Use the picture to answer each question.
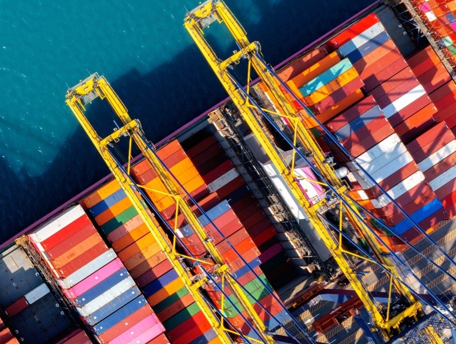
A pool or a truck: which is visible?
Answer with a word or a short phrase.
truck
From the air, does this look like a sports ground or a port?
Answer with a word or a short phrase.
port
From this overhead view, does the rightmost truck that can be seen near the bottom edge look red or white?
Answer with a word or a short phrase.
red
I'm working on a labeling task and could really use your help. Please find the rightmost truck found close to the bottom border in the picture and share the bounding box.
[313,300,360,337]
